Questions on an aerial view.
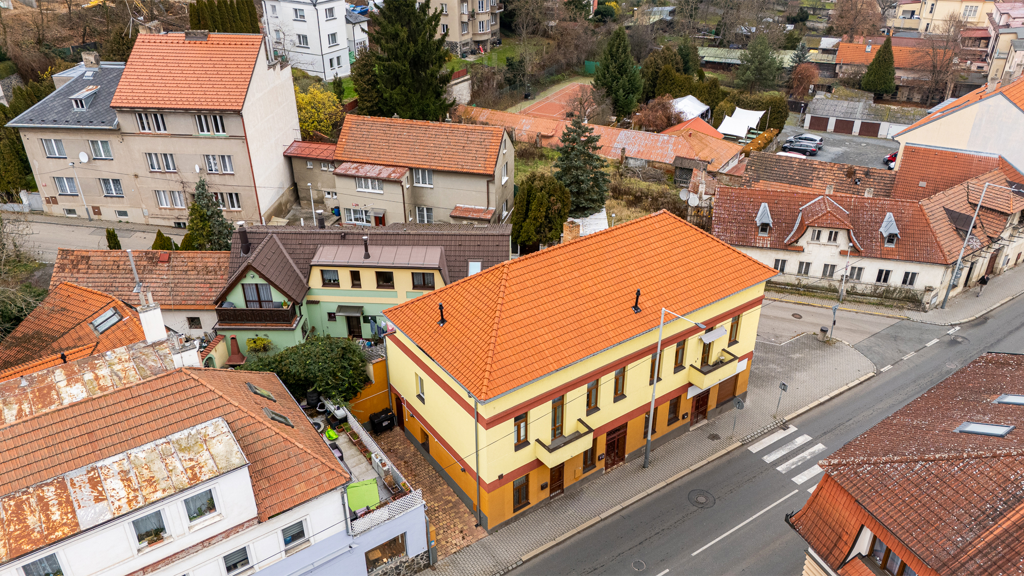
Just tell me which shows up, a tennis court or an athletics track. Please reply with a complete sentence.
This aerial view contains a tennis court.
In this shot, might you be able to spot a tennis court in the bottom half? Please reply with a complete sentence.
No, looking in the bottom half, there is no tennis court.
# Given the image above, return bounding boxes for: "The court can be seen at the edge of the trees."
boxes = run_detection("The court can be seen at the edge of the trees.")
[526,82,614,127]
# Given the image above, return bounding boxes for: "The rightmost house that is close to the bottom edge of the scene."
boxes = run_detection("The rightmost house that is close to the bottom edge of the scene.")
[771,346,1024,576]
